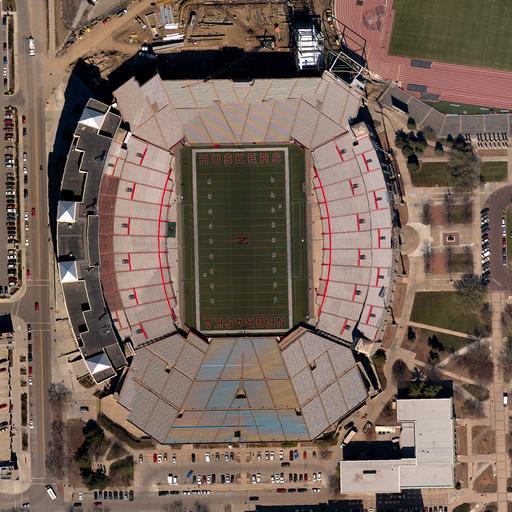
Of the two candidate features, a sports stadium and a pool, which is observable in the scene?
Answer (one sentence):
Of the two, only a sports stadium appears.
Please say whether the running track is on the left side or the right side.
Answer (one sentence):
The running track appears in the right half of the scene.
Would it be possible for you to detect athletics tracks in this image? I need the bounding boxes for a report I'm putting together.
[334,0,512,106]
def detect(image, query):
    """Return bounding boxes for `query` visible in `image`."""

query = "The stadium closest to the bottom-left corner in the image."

[100,70,402,444]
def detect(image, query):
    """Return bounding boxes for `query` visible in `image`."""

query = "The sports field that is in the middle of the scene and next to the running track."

[166,142,322,340]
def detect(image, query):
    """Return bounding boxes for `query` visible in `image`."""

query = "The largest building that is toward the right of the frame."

[340,398,456,494]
